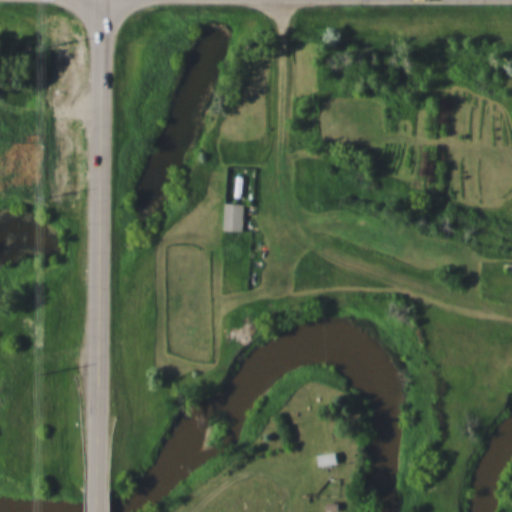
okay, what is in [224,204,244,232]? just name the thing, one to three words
barn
